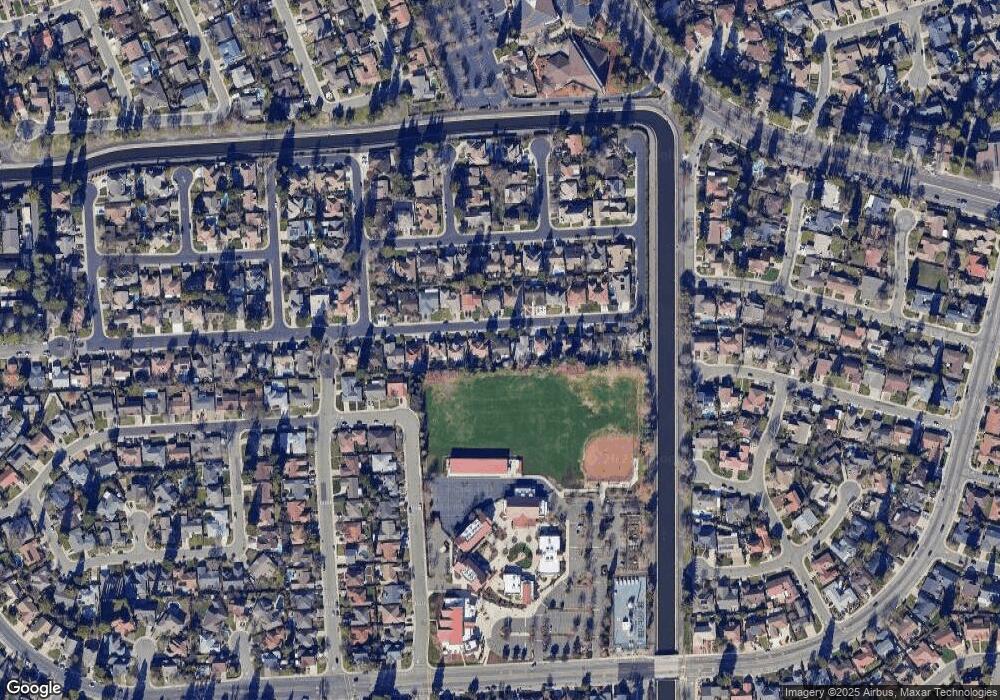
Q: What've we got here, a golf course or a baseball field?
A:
baseball field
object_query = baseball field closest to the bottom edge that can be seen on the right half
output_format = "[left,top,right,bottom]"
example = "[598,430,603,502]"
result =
[584,433,639,488]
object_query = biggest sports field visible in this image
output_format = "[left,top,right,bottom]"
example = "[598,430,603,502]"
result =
[429,368,645,487]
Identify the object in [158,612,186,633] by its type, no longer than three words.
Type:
house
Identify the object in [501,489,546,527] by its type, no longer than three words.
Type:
building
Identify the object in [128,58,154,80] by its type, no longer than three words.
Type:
house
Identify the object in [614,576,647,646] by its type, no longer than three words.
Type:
building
